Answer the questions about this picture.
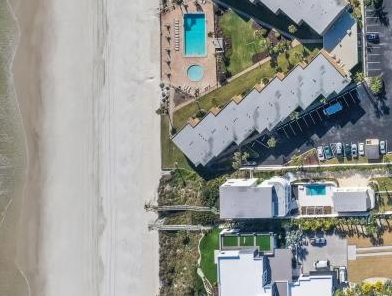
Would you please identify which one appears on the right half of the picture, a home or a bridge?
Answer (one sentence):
You can see a home on the right half of the picture.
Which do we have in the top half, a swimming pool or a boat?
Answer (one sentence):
You can see a swimming pool in the top half.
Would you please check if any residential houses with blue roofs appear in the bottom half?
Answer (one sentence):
No, I can find no residential house with a blue roof in the bottom half.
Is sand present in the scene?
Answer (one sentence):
Yes, some sand is visible.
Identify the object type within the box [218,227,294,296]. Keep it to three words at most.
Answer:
house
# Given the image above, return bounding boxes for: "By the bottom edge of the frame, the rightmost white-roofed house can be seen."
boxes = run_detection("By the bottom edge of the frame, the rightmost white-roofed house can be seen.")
[292,268,336,296]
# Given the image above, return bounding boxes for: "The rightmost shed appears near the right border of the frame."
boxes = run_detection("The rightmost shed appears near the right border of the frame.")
[365,137,381,159]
